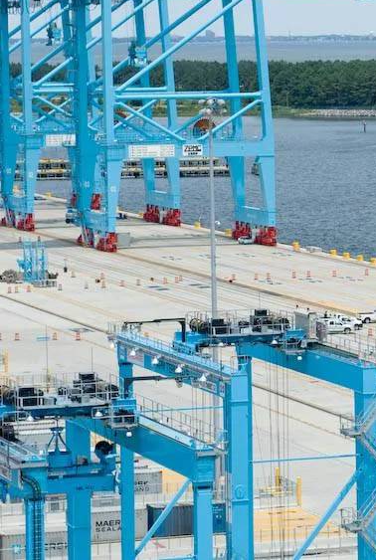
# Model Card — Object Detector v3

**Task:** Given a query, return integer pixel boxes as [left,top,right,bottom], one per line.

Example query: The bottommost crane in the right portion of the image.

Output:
[83,263,376,560]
